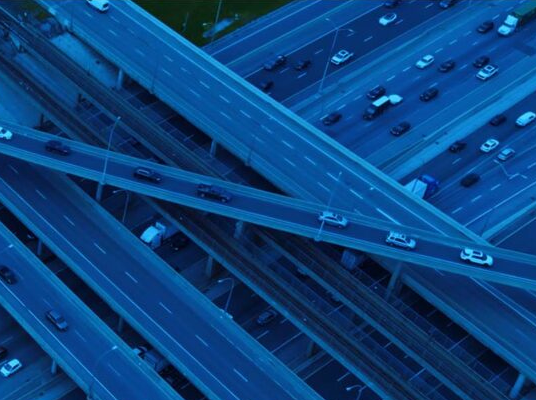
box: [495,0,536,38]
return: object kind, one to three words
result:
truck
